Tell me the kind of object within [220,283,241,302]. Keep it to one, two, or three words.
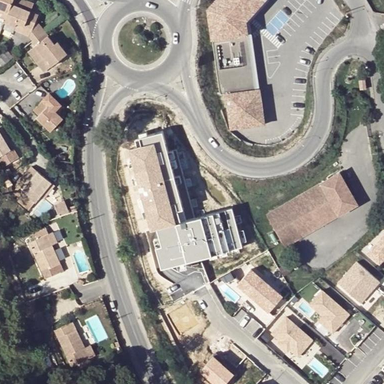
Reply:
swimming pool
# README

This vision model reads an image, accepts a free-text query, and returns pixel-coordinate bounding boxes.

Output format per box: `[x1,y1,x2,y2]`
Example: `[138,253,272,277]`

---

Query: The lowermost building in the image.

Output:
[202,358,234,384]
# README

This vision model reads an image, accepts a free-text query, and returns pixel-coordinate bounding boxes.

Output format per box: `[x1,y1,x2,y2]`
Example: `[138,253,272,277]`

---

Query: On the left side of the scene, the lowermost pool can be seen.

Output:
[84,314,108,343]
